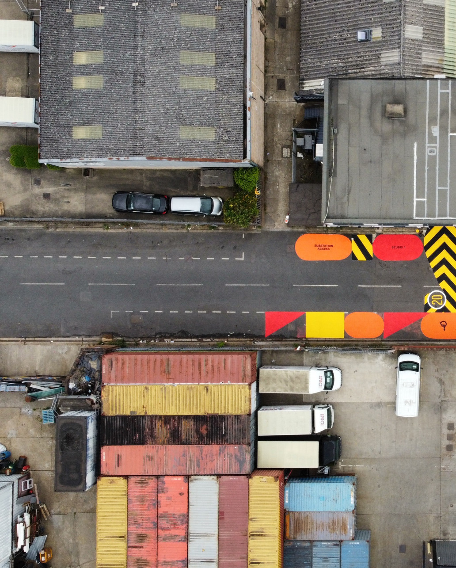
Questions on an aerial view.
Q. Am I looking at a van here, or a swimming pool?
van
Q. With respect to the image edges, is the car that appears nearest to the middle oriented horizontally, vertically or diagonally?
horizontally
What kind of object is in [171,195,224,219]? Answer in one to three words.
car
